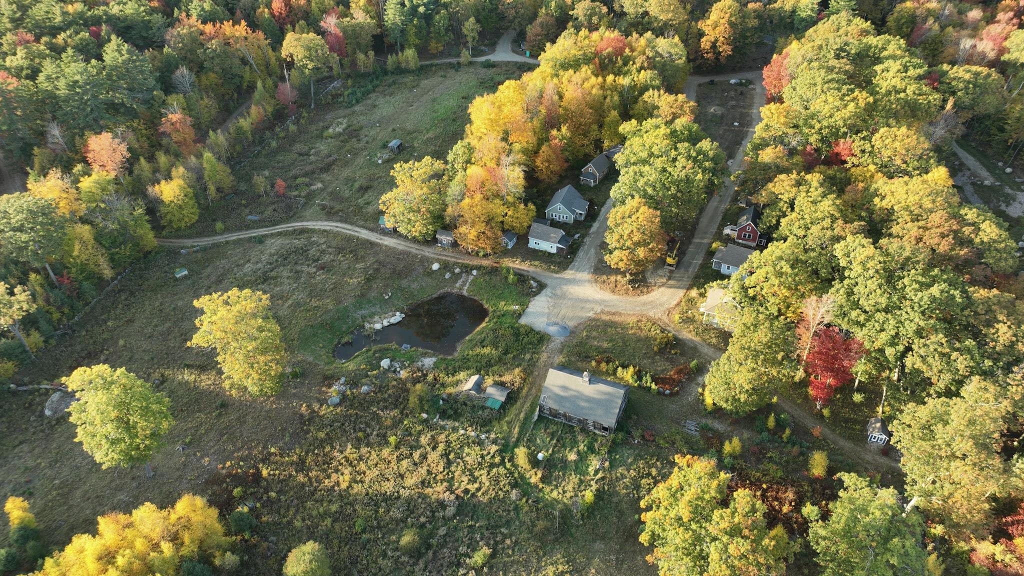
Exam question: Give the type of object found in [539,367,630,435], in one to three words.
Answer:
barn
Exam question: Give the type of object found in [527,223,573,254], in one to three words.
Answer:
house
